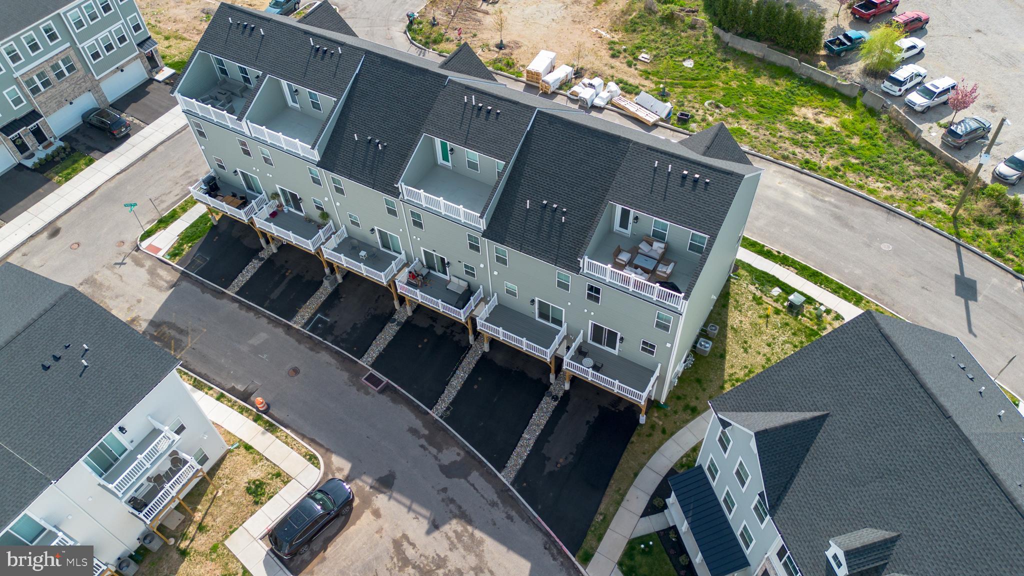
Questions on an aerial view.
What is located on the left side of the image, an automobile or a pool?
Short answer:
automobile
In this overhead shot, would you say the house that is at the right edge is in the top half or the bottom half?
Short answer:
bottom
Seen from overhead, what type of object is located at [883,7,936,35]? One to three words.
car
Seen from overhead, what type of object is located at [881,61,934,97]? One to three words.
car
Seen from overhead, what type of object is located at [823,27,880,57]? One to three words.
truck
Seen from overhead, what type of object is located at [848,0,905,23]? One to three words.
truck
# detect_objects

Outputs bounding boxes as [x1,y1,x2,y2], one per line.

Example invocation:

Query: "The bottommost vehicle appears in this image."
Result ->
[265,480,356,563]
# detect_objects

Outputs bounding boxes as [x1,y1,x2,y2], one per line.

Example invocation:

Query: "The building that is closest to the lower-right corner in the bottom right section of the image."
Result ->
[660,310,1024,576]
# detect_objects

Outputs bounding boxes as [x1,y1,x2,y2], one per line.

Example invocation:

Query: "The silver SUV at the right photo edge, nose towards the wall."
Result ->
[993,146,1024,182]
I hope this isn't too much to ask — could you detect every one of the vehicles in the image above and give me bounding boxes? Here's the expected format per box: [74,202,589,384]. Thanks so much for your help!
[940,114,998,150]
[823,27,880,57]
[265,480,356,563]
[901,74,961,115]
[883,7,936,35]
[993,146,1024,182]
[81,105,131,137]
[881,61,934,97]
[848,0,905,23]
[882,34,930,63]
